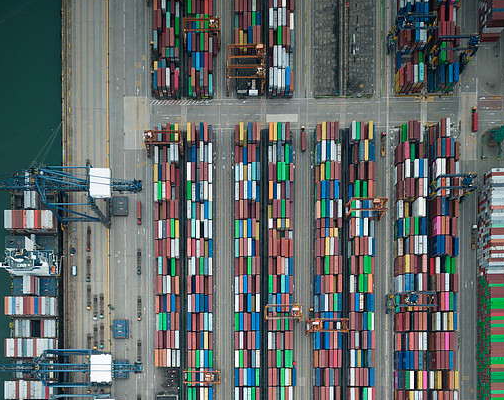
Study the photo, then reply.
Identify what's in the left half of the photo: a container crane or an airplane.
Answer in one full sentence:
You can see a container crane in the left half of the photo.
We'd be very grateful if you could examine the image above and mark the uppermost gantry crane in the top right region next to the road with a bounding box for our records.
[387,13,437,55]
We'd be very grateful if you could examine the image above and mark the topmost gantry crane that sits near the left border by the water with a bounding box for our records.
[0,165,143,230]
